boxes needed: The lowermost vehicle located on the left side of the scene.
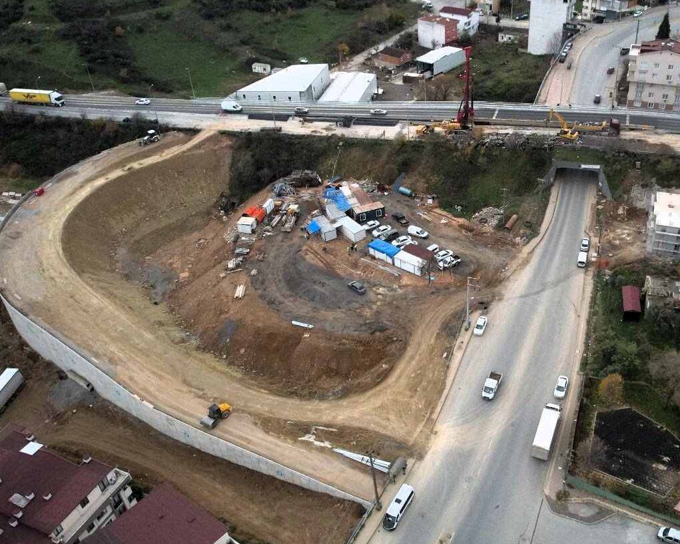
[195,398,236,435]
